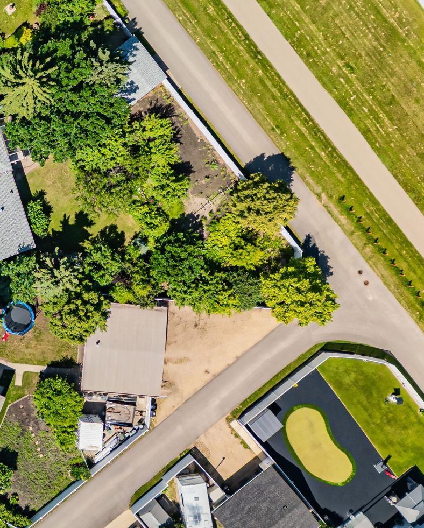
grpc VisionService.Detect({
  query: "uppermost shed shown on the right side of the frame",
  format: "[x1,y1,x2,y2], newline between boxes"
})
[244,408,283,443]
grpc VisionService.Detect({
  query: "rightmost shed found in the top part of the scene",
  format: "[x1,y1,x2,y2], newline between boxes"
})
[100,34,167,100]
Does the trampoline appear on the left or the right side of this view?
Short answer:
left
